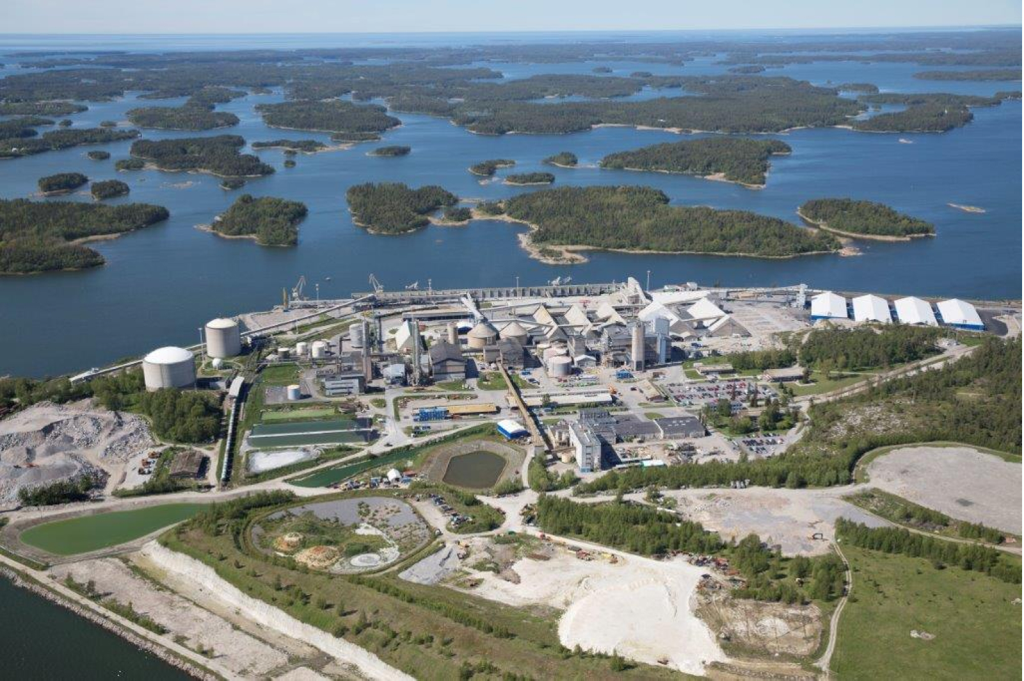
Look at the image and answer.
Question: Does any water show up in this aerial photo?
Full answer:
Yes, some water is visible.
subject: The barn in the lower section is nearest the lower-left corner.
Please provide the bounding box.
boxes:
[169,449,204,477]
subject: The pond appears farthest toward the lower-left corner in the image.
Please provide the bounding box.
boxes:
[21,503,211,555]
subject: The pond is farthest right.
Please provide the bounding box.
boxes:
[443,451,507,488]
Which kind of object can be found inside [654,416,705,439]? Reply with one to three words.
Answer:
building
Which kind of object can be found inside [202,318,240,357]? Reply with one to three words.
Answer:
storage tank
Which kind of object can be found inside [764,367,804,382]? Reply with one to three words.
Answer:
house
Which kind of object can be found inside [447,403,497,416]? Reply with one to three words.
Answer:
shed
